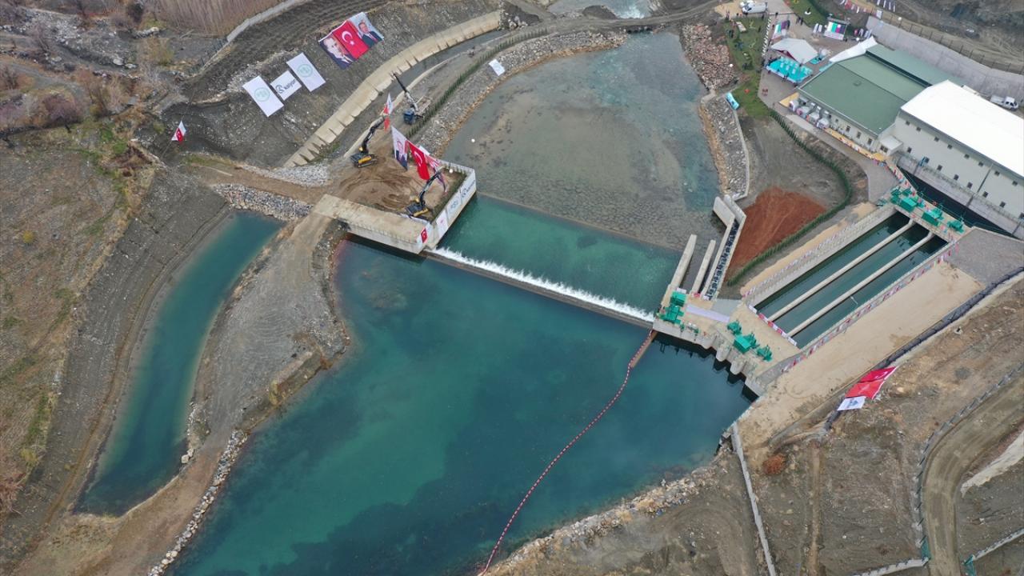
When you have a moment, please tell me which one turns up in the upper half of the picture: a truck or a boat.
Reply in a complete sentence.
Visible in the upper half of the picture is a truck.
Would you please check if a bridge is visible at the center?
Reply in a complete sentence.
No, at the center there is no bridge.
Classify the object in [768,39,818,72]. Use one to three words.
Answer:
tent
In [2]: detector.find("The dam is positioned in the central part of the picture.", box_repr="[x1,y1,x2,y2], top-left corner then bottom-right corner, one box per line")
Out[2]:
[421,248,654,328]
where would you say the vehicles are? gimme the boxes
[394,74,437,119]
[740,0,771,12]
[990,93,1023,111]
[356,117,394,168]
[405,164,451,219]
